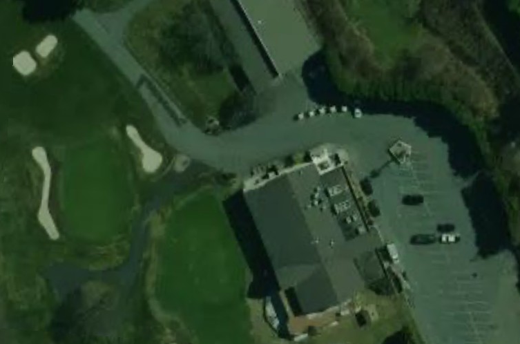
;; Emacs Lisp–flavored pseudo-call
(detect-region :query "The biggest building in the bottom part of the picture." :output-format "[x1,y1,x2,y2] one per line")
[243,142,403,341]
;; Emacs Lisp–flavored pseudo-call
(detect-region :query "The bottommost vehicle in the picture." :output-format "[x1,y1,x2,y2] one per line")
[386,243,400,265]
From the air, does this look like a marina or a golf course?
golf course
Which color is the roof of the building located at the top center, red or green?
green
